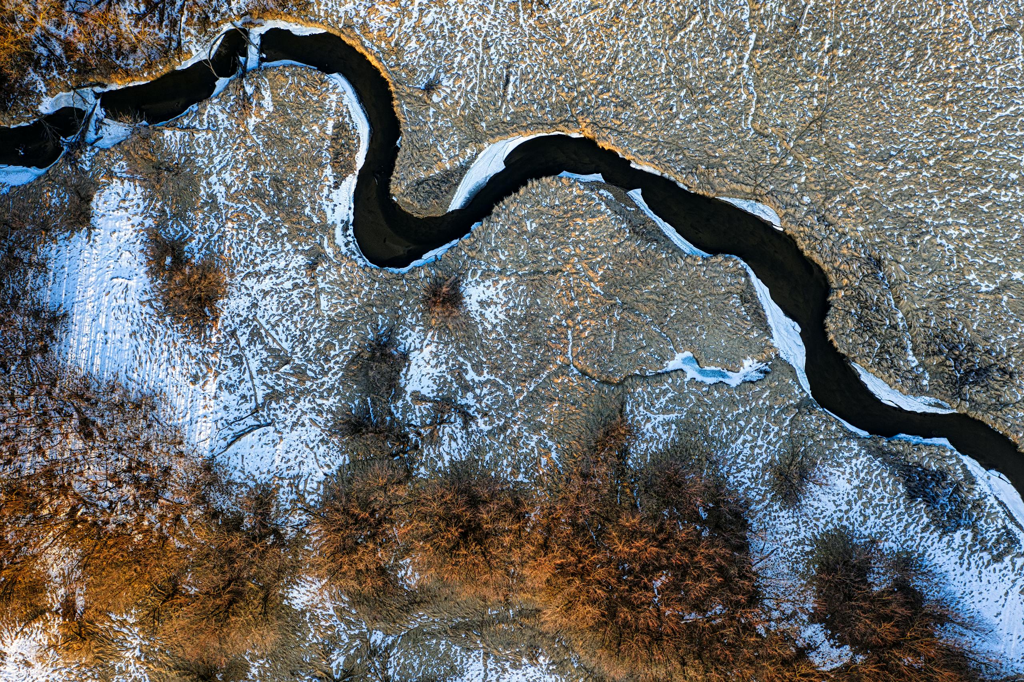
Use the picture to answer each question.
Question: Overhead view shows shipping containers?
No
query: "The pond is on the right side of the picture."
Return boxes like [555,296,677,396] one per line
[651,351,770,390]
